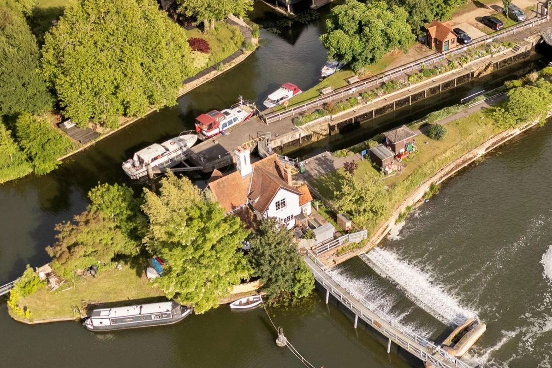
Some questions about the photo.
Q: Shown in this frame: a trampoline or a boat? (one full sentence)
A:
The one in the frame is a boat.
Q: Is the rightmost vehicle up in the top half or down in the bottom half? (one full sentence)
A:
The rightmost vehicle sits in the top half of the picture.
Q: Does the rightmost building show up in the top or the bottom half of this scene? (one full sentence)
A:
Seen from above, the rightmost building lies in the top half of the view.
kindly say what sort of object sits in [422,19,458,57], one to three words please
building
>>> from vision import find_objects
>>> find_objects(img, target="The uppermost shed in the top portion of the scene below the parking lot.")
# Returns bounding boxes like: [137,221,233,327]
[380,125,418,155]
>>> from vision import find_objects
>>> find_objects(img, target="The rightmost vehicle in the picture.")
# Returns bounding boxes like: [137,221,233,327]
[508,1,528,21]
